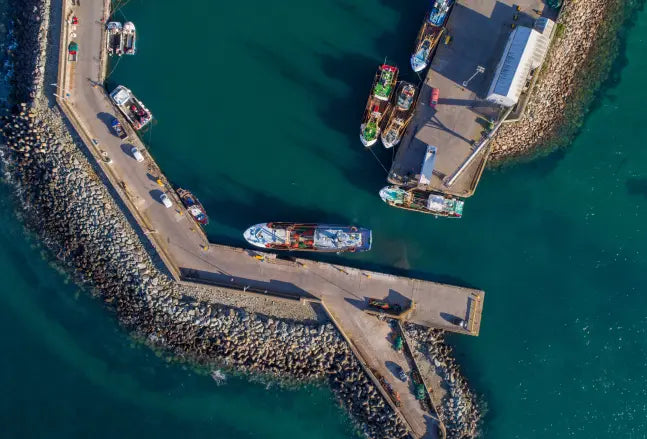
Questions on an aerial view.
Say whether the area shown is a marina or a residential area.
marina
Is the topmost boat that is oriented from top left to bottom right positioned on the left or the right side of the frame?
left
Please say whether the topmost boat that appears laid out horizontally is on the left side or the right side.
right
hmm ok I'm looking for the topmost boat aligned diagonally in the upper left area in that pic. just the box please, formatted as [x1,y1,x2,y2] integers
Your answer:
[112,85,153,130]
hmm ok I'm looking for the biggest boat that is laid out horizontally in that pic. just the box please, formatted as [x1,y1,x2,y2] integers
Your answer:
[243,221,373,255]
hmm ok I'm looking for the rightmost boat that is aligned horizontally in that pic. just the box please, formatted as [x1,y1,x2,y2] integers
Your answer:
[378,189,465,219]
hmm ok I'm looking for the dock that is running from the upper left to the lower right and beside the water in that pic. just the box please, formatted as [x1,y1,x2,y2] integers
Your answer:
[46,0,485,439]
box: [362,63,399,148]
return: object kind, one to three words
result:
boat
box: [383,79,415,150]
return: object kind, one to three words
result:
boat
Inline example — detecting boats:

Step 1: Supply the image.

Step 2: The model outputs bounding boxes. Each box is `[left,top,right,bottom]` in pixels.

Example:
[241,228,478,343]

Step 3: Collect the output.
[411,0,456,75]
[123,21,137,57]
[362,63,399,148]
[175,186,209,225]
[378,189,465,219]
[109,21,123,57]
[383,79,415,150]
[112,85,153,130]
[243,221,373,255]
